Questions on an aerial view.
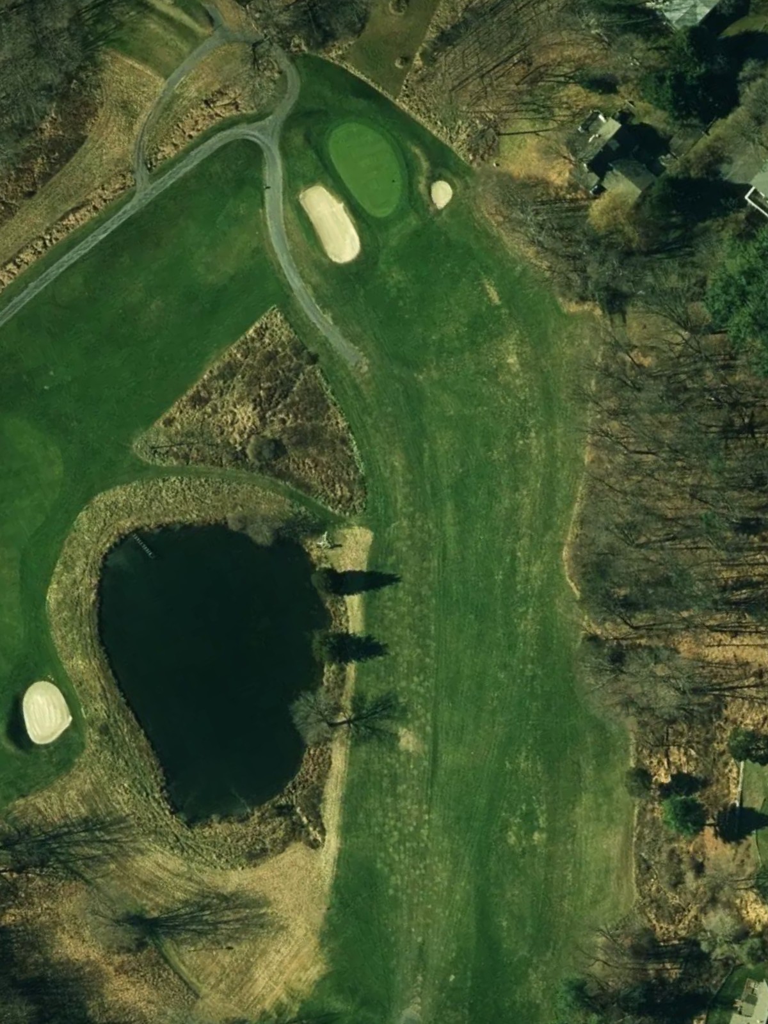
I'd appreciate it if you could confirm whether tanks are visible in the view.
No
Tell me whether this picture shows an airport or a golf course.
golf course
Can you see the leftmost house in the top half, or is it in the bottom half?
top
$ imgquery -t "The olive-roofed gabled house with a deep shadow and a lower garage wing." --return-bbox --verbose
[577,110,658,209]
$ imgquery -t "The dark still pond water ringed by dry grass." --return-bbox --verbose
[95,523,332,822]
